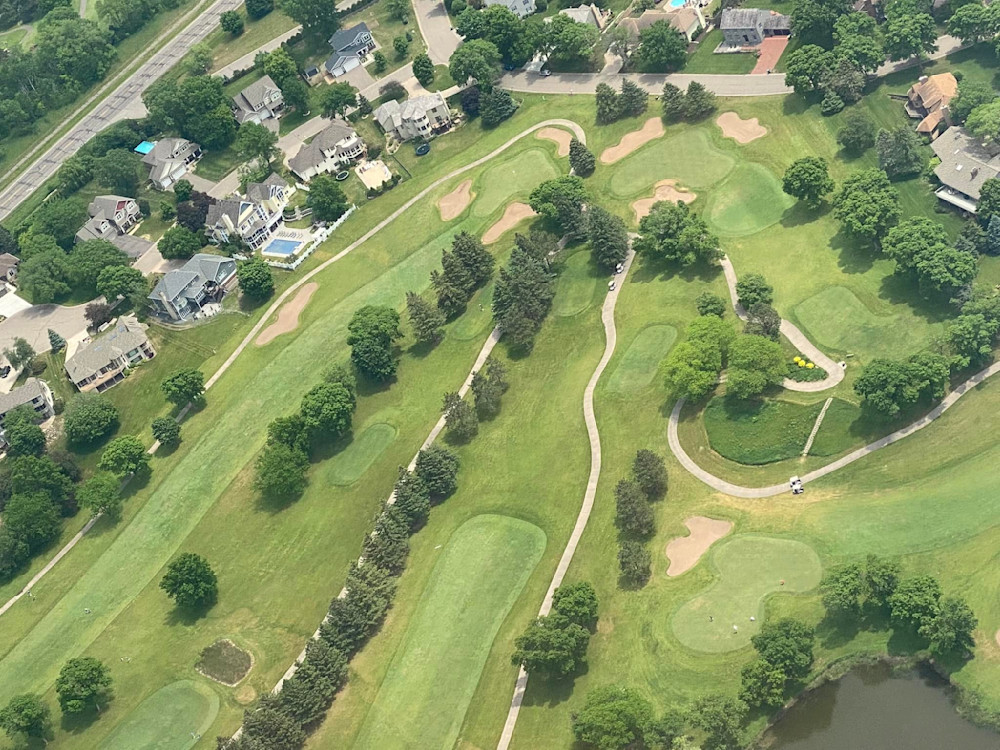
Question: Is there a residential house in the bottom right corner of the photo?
No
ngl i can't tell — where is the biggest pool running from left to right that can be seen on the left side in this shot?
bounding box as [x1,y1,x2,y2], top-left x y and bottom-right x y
[262,237,304,256]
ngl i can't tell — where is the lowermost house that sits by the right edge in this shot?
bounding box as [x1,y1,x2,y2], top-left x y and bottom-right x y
[925,119,1000,219]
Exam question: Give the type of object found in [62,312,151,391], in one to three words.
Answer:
house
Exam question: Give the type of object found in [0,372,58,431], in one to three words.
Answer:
house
